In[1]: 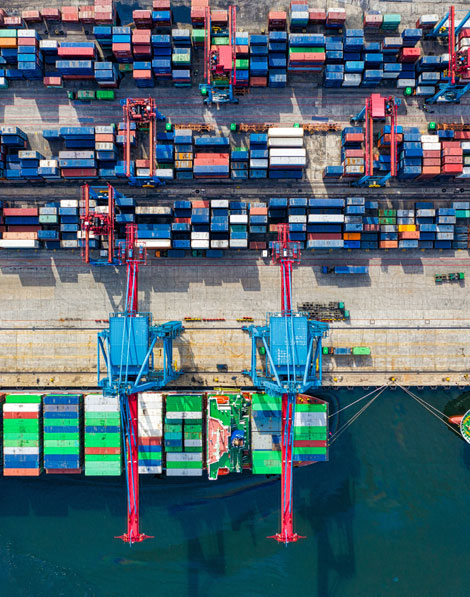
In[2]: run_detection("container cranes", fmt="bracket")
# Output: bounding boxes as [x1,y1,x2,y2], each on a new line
[203,5,238,104]
[237,224,328,549]
[123,97,166,189]
[96,224,191,549]
[350,93,398,189]
[82,181,129,267]
[426,5,470,104]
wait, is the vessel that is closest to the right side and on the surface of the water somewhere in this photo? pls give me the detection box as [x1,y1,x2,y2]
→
[447,407,470,444]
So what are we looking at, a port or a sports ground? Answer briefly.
port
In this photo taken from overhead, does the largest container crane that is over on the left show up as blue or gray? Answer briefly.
blue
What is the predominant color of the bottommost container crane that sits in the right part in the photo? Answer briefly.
blue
